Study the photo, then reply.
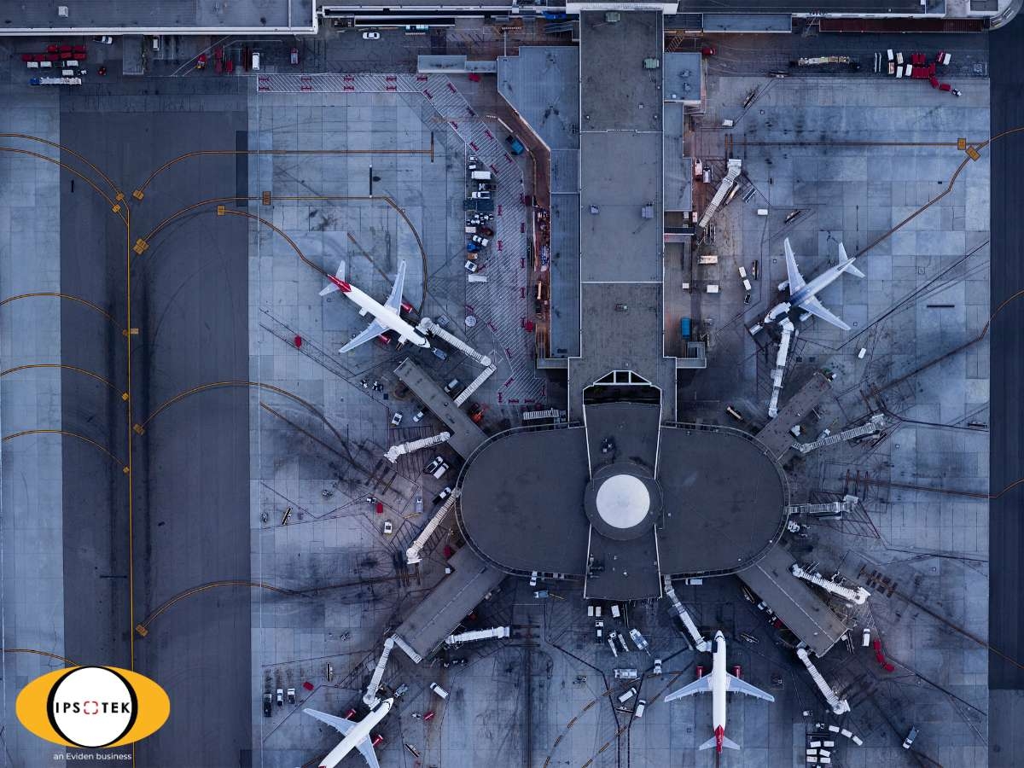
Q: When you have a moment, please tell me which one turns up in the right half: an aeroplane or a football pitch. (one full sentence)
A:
The feature located in the right half is an aeroplane.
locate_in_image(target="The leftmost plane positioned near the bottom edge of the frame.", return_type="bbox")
[298,698,393,768]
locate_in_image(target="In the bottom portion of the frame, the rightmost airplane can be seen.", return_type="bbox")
[664,631,775,757]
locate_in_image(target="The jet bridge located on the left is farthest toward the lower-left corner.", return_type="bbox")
[363,635,395,711]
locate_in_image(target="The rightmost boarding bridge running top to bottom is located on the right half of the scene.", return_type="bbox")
[766,308,795,418]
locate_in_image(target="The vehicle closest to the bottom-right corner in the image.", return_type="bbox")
[905,727,919,748]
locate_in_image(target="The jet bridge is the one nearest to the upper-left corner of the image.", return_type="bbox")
[413,319,493,367]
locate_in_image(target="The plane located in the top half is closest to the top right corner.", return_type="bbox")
[765,238,862,331]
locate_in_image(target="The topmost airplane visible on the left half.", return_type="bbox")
[322,260,430,353]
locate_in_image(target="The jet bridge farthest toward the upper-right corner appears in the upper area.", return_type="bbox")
[695,158,742,229]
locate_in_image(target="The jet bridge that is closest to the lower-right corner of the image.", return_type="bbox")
[793,646,849,713]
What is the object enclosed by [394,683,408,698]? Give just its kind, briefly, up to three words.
work vehicle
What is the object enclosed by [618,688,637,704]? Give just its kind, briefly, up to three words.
vehicle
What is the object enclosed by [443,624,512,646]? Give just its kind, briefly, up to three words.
jet bridge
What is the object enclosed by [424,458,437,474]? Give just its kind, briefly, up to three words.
vehicle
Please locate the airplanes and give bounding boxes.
[664,631,775,757]
[298,698,393,768]
[765,238,862,331]
[322,260,430,353]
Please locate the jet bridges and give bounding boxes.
[793,646,849,713]
[695,158,742,229]
[663,577,718,650]
[384,430,451,465]
[413,319,493,367]
[443,624,512,646]
[406,487,461,560]
[363,635,395,711]
[791,412,886,453]
[786,495,857,516]
[790,564,870,602]
[766,308,795,418]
